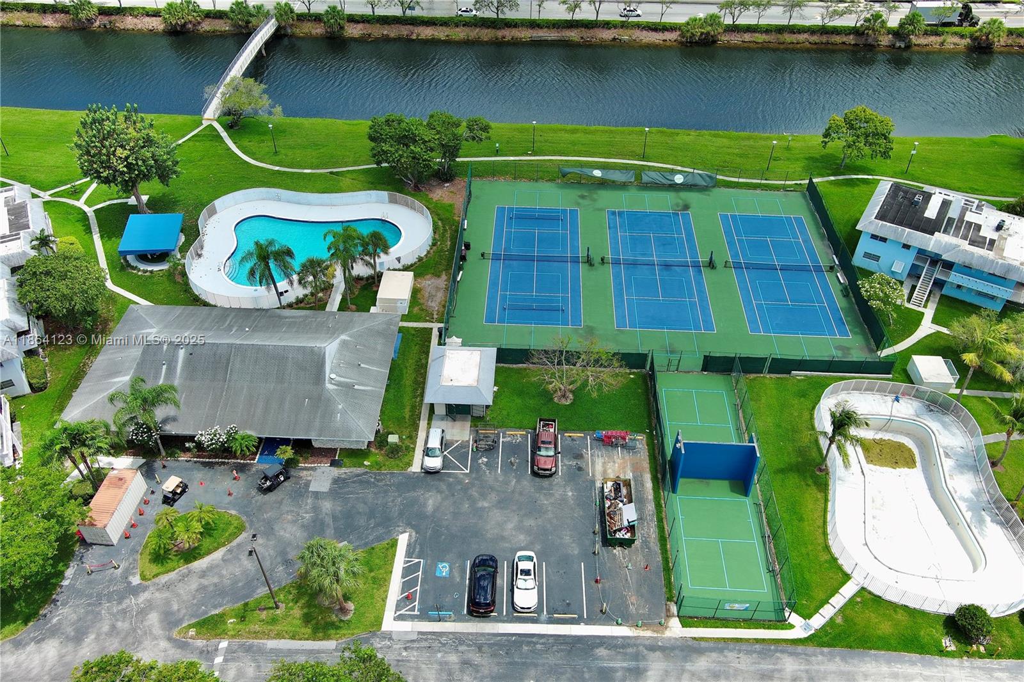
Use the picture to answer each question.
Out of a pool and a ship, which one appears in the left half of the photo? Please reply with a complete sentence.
Visible in the left half of the photo is a pool.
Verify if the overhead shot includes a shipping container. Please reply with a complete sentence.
Yes, the image includes a shipping container.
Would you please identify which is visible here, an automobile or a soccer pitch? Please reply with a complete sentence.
There is an automobile in the scene.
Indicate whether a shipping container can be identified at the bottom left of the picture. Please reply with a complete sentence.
Yes, a shipping container can be seen at the bottom left of the picture.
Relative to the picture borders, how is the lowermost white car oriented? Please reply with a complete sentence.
What the image shows is the lowermost white car lying vertically.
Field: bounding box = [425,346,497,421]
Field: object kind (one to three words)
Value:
building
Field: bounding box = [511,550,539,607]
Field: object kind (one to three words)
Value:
car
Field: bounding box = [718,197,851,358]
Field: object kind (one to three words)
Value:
tennis court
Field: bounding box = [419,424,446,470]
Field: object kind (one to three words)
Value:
car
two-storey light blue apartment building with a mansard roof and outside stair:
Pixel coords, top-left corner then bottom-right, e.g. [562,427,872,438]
[851,179,1024,311]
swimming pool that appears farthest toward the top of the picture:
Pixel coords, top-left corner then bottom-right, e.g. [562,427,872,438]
[190,199,433,308]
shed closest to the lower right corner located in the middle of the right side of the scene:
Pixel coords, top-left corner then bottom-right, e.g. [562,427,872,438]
[906,355,964,398]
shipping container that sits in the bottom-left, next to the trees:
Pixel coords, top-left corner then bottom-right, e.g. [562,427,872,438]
[76,467,143,546]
